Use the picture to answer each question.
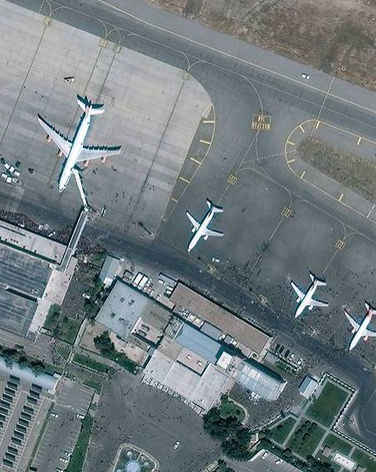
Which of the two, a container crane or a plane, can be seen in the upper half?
plane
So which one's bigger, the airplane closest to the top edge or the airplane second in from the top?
the airplane closest to the top edge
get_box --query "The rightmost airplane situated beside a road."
[345,304,376,350]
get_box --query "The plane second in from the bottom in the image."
[292,274,328,318]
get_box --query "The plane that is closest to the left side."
[41,99,121,192]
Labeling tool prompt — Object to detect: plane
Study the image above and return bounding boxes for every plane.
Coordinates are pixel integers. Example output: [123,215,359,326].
[292,274,328,318]
[188,200,224,251]
[345,304,376,350]
[41,99,121,192]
